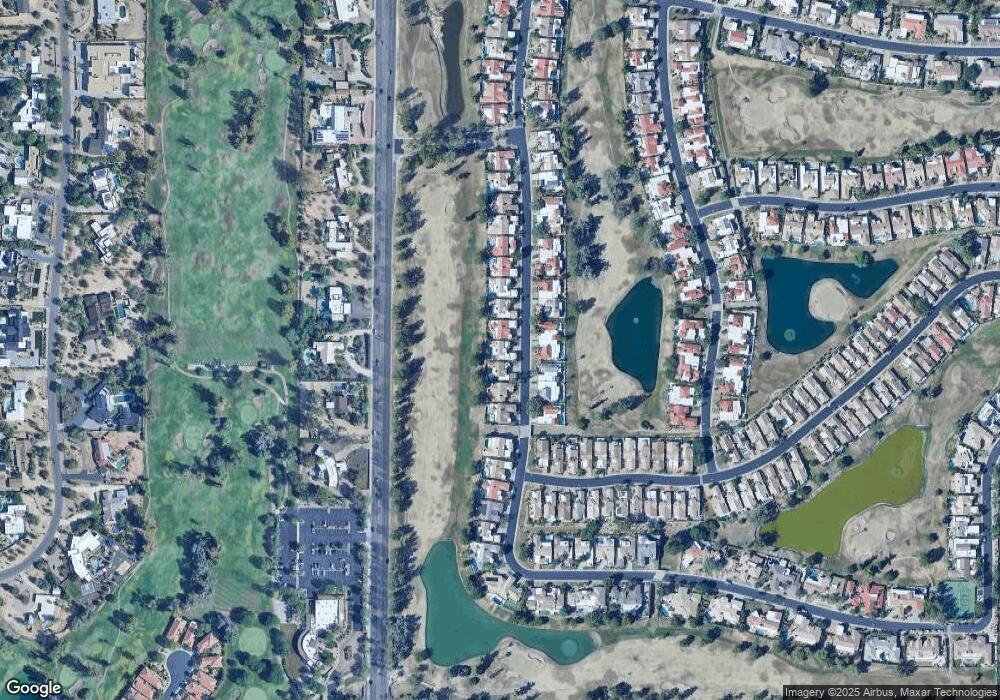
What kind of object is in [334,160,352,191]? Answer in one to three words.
house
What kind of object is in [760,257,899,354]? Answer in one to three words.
pond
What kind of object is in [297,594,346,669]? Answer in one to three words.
building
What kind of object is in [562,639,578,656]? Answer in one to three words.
fountain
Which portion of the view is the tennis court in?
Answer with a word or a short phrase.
bottom right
